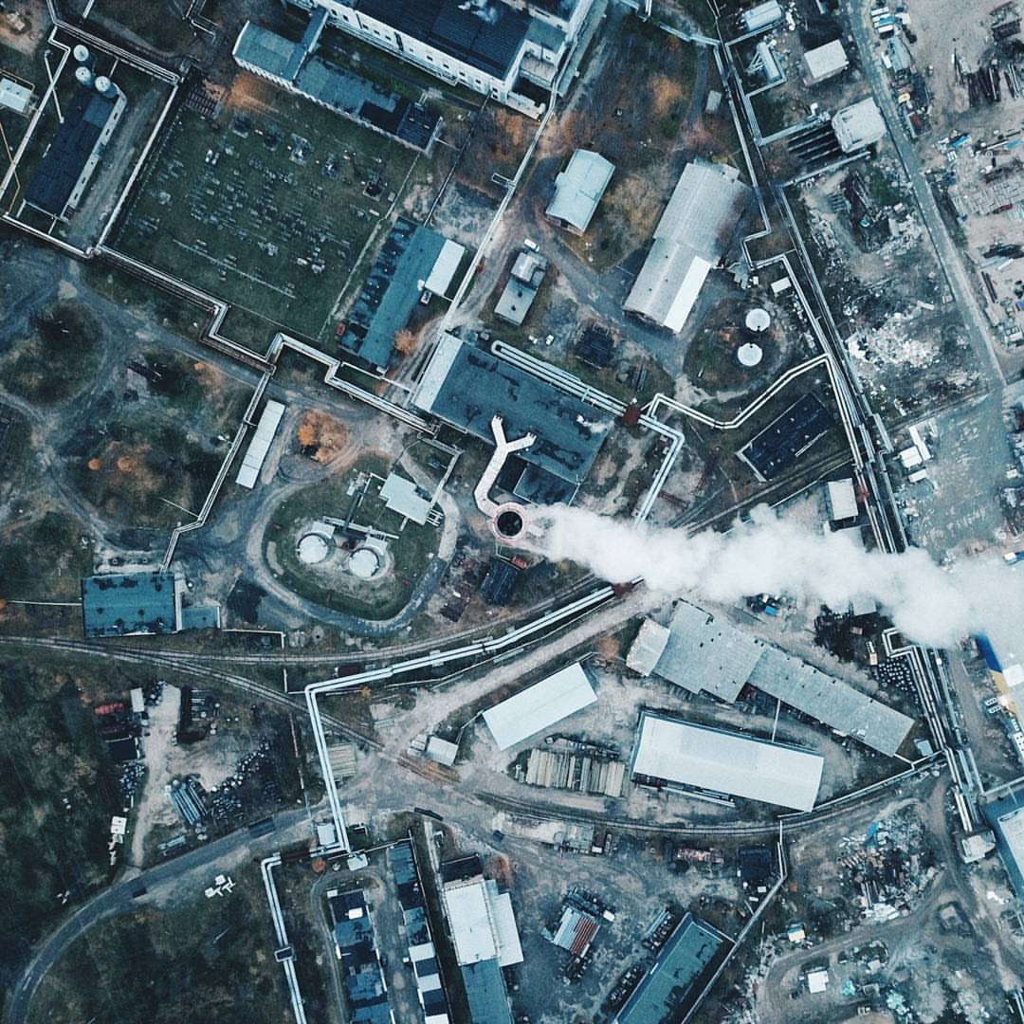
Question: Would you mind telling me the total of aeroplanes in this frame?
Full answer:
The picture shows no aeroplanes.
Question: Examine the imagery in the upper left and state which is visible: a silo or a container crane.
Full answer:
It is a silo that can be seen in the upper left.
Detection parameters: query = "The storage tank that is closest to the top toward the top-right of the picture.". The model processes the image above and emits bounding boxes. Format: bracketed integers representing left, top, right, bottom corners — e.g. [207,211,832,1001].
[742,0,786,33]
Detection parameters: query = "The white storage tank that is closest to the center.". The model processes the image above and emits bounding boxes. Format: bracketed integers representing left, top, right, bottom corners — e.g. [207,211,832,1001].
[349,548,382,580]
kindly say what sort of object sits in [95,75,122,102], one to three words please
silo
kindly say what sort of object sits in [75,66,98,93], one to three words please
silo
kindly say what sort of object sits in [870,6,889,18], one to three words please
vehicle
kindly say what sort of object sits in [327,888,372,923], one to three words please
building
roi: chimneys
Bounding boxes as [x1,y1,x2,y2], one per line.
[490,503,531,544]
